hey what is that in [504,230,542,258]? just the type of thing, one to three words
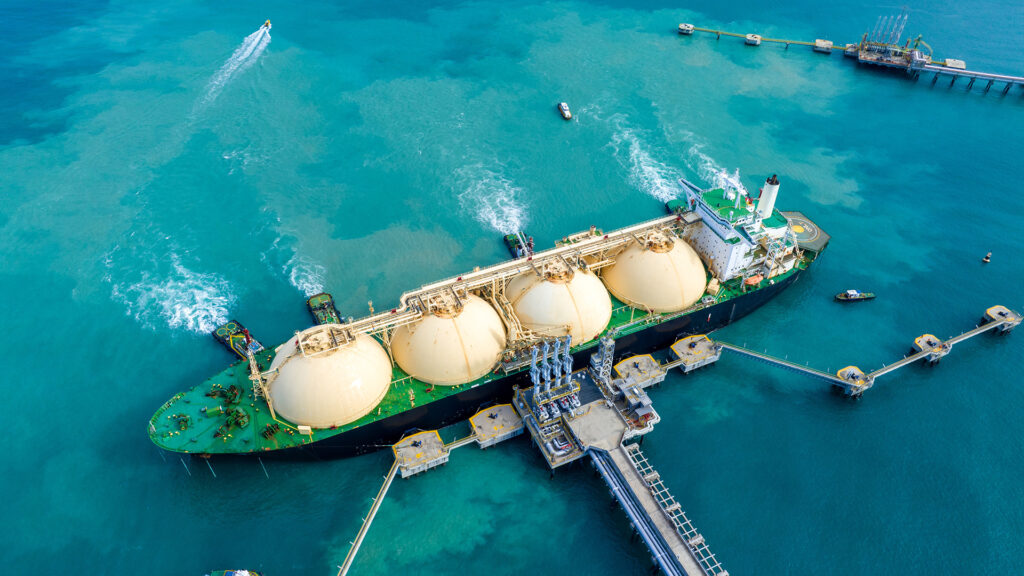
boat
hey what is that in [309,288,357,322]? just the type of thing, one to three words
boat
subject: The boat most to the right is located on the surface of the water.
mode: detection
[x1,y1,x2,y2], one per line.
[835,288,877,301]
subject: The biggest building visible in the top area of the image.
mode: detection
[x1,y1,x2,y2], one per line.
[909,50,933,78]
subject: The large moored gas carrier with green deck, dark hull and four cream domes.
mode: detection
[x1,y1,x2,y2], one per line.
[147,169,831,467]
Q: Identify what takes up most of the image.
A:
water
